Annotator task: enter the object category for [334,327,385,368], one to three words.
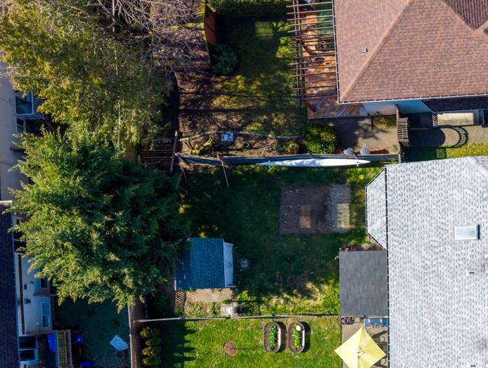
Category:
umbrella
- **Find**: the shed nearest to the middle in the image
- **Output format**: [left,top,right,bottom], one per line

[174,236,236,290]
